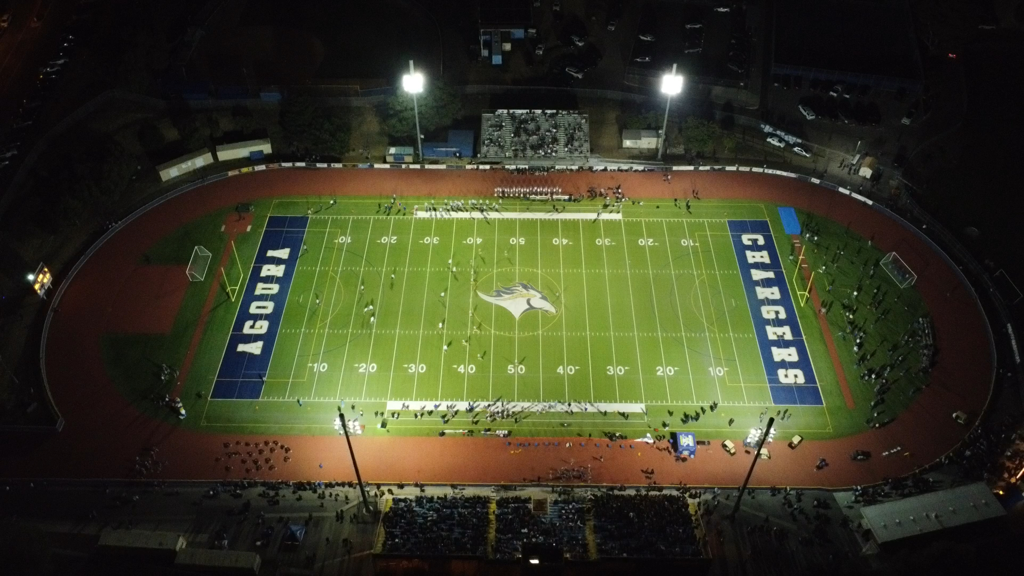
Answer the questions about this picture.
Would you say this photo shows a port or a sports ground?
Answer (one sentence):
This looks like a sports ground.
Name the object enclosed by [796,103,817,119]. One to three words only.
car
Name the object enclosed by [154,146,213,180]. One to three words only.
building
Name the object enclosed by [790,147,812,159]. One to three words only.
vehicle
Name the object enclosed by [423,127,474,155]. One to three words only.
building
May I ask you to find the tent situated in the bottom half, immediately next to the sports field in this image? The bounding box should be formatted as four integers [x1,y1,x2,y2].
[674,430,700,458]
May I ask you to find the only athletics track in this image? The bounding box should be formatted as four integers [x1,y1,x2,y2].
[0,167,993,490]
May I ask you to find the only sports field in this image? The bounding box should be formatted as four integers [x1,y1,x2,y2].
[183,195,850,440]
